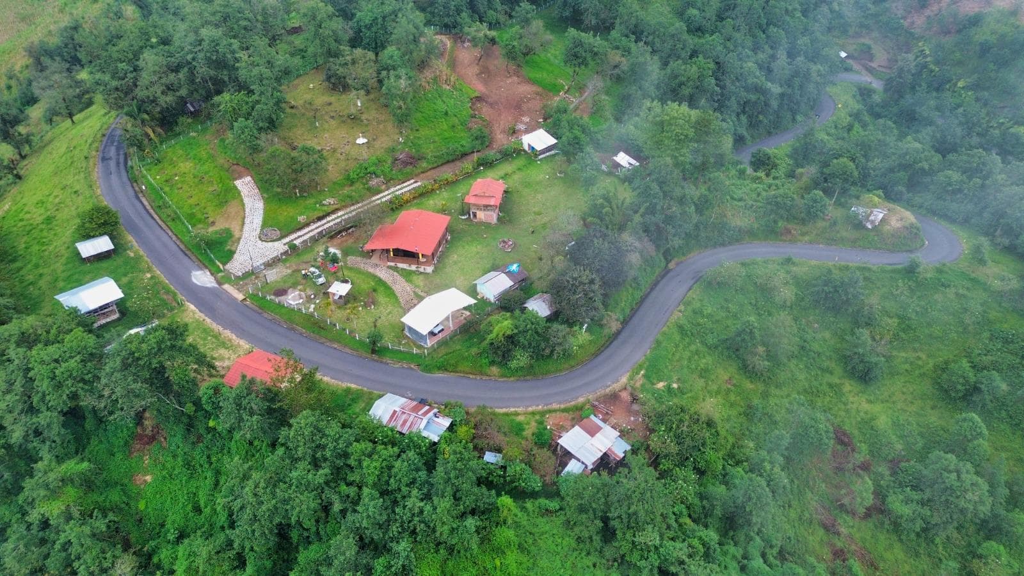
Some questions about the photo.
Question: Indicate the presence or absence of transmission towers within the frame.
No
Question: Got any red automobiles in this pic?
No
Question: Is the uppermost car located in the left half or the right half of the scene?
left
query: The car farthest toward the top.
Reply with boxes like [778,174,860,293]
[301,259,327,285]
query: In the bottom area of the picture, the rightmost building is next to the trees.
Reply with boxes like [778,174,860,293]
[558,414,632,481]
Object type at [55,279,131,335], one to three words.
building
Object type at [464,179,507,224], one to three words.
house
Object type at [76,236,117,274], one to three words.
shed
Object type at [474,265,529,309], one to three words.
shed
